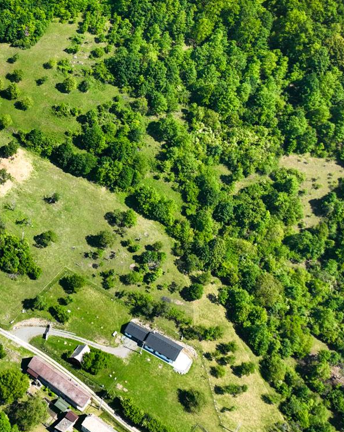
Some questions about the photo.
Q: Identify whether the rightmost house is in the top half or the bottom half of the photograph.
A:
bottom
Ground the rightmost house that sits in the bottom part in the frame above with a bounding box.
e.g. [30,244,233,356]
[144,331,183,363]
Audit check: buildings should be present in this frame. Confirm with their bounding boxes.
[28,357,92,410]
[144,331,183,363]
[73,343,90,364]
[82,414,113,432]
[125,322,150,343]
[54,410,74,432]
